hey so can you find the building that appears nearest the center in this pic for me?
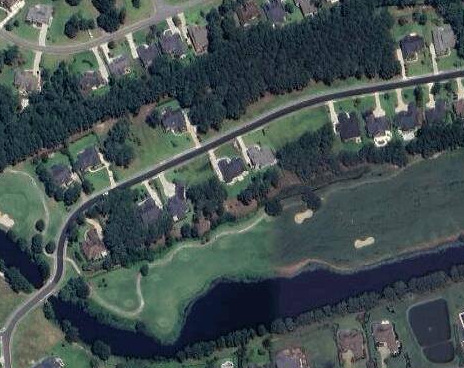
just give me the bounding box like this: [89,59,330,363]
[217,155,245,183]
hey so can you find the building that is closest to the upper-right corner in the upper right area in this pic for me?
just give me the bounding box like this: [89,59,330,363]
[435,24,455,53]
